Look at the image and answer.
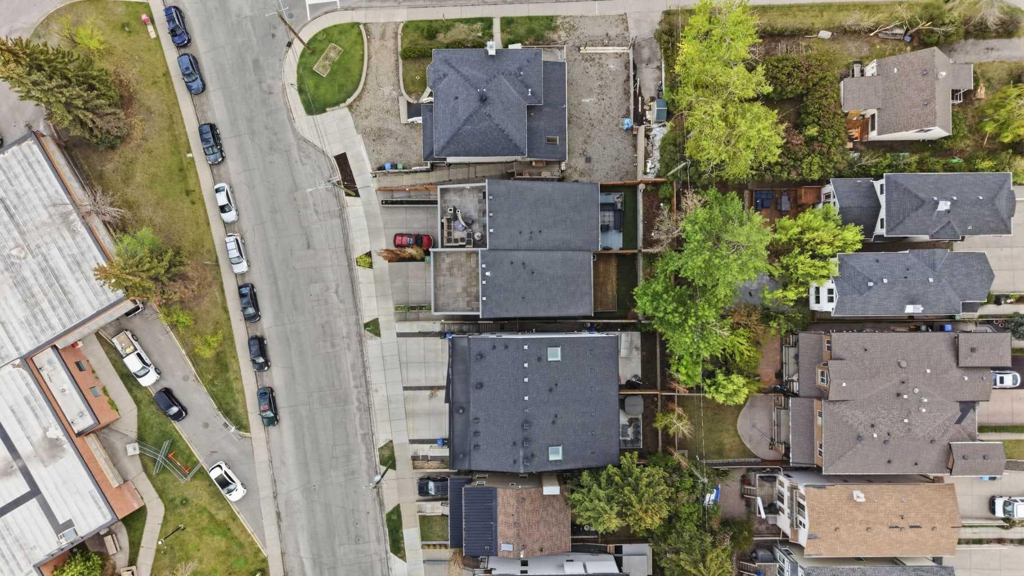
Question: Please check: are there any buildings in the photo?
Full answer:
Yes, a building is visible in the scene.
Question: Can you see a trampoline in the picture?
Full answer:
No, the picture doesn't show any trampoline.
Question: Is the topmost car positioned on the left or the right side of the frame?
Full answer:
The topmost car is on the left side of the image.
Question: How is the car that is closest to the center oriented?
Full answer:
In this picture, the car that is closest to the center lies from left to right.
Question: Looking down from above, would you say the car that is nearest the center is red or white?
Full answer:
The color of the car that is nearest the center is red.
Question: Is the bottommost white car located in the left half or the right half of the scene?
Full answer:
The bottommost white car appears in the right half of the scene.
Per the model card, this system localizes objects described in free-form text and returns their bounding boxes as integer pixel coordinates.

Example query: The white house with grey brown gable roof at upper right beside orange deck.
[833,47,973,141]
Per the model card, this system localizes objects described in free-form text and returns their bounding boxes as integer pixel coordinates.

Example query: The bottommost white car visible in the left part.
[209,460,245,501]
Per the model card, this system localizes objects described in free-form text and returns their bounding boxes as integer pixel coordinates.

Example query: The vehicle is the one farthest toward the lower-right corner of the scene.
[988,497,1024,520]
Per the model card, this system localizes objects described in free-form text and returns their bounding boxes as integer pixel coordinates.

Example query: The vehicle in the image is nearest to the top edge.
[163,4,195,49]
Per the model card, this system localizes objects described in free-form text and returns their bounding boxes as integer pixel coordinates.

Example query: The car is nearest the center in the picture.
[394,232,434,252]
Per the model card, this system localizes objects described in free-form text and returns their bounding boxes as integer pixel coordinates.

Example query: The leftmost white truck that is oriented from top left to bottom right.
[113,329,158,384]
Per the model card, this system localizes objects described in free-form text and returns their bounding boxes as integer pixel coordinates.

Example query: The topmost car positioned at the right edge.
[993,369,1021,390]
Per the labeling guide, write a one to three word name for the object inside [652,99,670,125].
shed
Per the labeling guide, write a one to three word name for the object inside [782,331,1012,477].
house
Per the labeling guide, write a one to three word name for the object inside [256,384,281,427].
car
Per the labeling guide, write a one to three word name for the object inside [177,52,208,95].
car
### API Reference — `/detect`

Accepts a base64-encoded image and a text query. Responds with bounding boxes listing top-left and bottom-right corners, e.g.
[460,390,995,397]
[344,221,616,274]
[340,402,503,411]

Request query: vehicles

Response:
[236,281,263,324]
[988,497,1024,520]
[153,384,186,423]
[394,232,434,252]
[177,52,208,95]
[246,334,272,372]
[224,232,252,275]
[993,369,1021,390]
[197,121,227,165]
[113,329,158,384]
[214,181,241,224]
[209,460,245,501]
[256,384,281,427]
[163,4,195,49]
[417,477,448,500]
